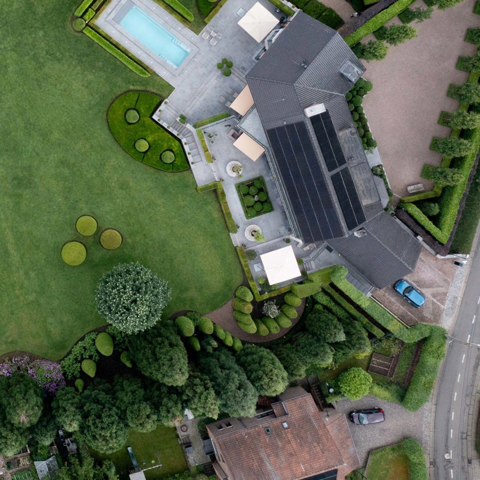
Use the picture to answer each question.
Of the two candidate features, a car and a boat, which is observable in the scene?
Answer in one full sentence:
Of the two, only a car appears.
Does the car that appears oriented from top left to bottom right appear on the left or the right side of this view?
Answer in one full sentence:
You can find the car that appears oriented from top left to bottom right on the right side of the picture.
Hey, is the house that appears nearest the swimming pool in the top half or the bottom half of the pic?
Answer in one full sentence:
You can find the house that appears nearest the swimming pool in the top half.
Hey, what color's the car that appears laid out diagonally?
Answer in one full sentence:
The car that appears laid out diagonally looks blue in the image.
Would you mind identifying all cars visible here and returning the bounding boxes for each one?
[393,279,430,309]
[349,407,386,426]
